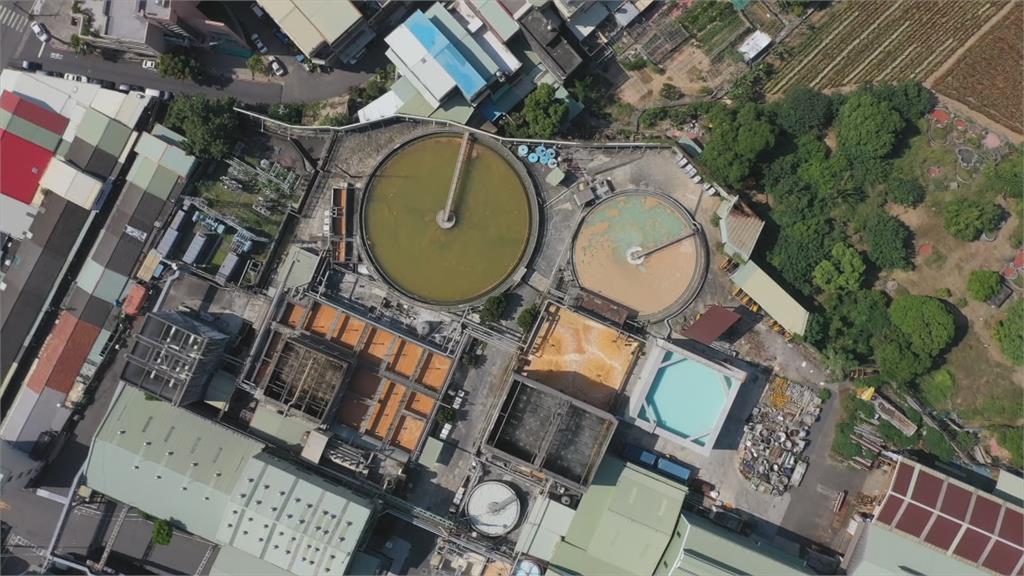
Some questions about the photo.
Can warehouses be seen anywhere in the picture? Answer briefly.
Yes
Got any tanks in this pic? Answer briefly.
Yes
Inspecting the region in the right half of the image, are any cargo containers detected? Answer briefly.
Yes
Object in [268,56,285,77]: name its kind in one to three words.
car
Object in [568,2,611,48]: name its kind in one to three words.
house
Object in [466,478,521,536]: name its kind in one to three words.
storage tank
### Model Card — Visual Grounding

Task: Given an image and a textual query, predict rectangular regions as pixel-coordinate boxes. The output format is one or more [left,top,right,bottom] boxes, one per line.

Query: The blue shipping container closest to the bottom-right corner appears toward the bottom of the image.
[655,454,692,481]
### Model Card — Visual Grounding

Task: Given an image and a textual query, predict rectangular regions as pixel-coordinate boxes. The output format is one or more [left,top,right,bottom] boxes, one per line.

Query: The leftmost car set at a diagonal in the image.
[30,20,49,41]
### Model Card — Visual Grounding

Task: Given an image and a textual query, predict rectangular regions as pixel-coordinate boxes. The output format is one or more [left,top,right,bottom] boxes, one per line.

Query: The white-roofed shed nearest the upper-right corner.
[734,31,772,65]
